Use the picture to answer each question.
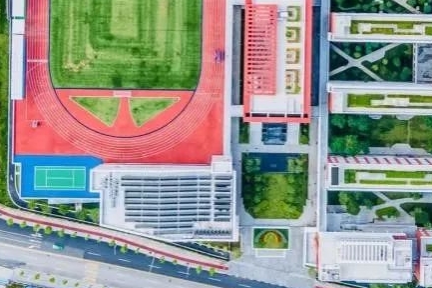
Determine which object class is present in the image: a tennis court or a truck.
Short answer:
tennis court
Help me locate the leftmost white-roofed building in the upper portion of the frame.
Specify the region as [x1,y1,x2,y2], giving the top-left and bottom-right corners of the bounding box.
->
[243,0,313,122]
